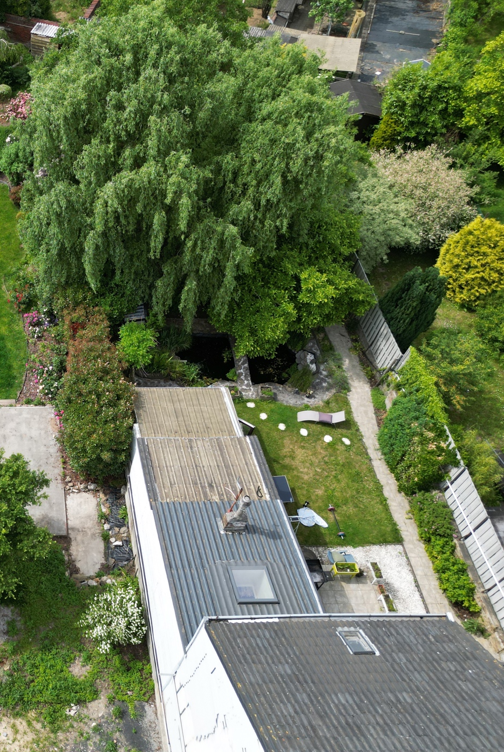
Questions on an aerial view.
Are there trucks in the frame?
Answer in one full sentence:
No, no truck is visible in the scene.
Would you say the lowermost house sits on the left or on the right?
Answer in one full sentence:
The lowermost house is on the right side of the image.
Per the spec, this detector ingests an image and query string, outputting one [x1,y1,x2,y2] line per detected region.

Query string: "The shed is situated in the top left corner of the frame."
[29,22,59,65]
